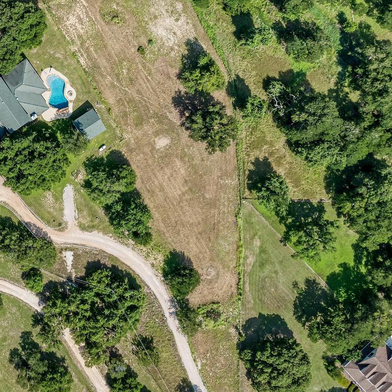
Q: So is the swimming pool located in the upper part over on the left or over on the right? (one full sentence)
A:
You can find the swimming pool located in the upper part on the left side of the picture.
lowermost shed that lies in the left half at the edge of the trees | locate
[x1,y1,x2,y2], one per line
[73,108,106,142]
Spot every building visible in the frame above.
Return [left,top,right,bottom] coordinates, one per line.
[0,57,50,139]
[73,108,106,142]
[343,342,392,392]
